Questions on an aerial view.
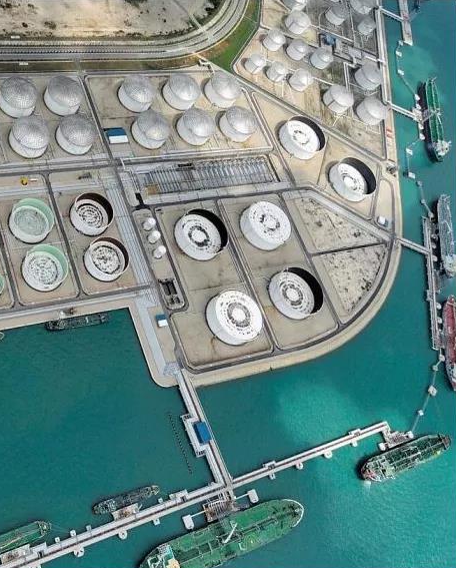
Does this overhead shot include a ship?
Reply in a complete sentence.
Yes, the photo shows a ship.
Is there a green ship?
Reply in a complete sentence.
Yes, this view includes a green ship.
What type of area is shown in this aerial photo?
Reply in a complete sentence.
What you see here is an industrial area.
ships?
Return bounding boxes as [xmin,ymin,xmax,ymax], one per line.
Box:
[440,294,456,393]
[0,519,50,555]
[434,192,456,279]
[92,485,161,515]
[43,312,110,332]
[356,432,453,485]
[424,77,455,163]
[129,501,305,568]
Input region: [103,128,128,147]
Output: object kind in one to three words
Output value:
building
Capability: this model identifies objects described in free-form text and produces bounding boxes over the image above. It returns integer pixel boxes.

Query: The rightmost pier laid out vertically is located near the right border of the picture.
[420,217,439,349]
